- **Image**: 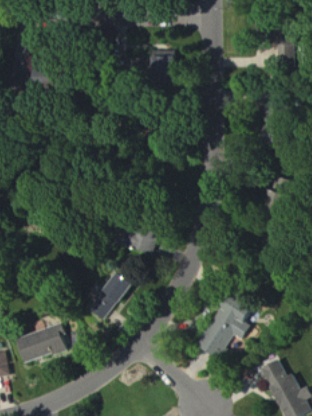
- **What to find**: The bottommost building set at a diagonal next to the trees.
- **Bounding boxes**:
[260,358,312,416]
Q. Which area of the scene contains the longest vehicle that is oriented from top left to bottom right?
bottom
